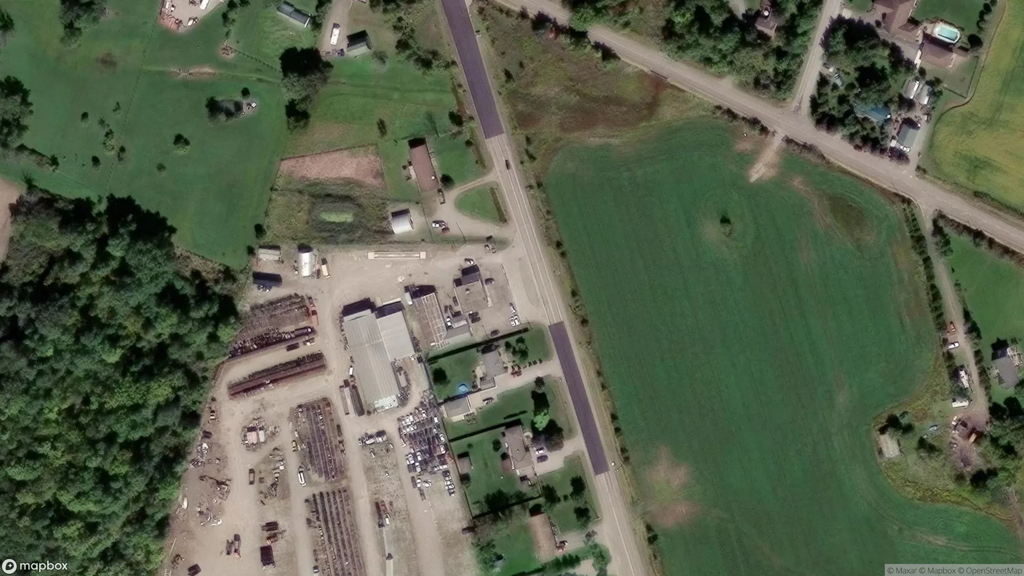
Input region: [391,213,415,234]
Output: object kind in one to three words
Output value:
barn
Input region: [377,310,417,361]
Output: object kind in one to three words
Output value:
building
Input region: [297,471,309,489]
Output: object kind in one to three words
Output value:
vehicle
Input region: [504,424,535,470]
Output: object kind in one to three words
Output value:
house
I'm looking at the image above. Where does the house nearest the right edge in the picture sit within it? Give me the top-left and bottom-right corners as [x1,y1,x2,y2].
[992,355,1020,389]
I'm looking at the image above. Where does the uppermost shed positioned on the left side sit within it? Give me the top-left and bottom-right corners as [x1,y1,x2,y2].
[277,1,312,27]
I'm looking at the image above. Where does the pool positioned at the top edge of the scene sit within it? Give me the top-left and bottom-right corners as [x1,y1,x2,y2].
[934,24,960,44]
